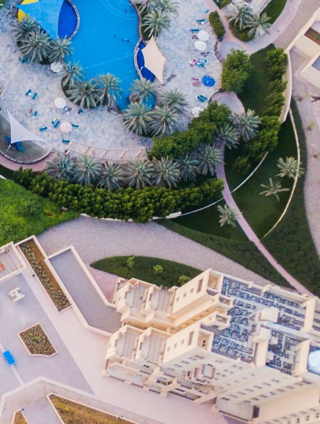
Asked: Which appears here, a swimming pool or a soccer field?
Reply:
swimming pool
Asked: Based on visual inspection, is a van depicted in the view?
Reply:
No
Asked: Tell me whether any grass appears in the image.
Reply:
Yes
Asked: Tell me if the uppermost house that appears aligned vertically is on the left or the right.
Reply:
right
